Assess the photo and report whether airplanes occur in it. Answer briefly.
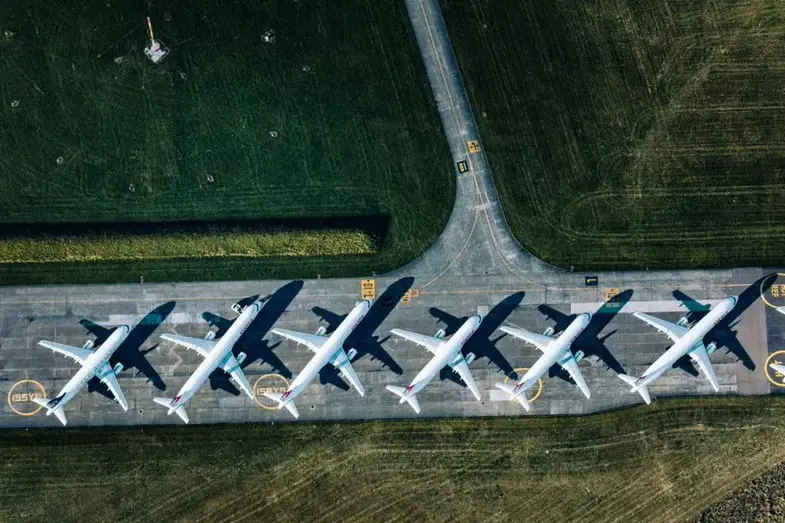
Yes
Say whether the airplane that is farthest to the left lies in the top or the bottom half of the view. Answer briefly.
bottom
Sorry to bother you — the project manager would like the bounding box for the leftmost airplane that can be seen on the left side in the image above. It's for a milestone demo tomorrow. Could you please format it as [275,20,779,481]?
[33,325,130,424]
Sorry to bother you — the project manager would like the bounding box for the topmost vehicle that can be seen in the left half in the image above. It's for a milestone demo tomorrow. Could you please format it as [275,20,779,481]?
[228,300,247,316]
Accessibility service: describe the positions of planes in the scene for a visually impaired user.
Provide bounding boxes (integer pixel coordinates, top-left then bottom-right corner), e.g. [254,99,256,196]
[33,325,130,424]
[386,317,482,414]
[498,314,593,410]
[265,301,372,418]
[153,302,263,423]
[619,296,738,403]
